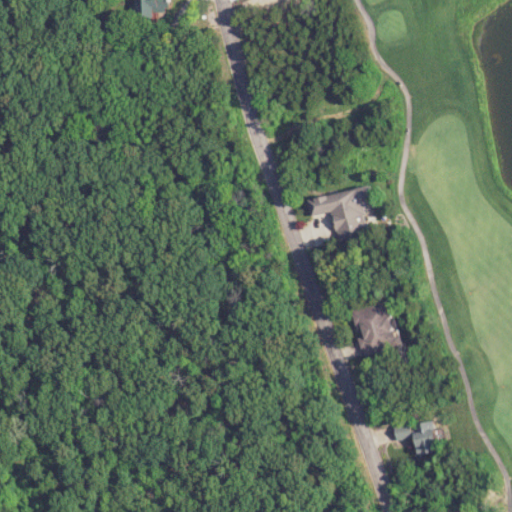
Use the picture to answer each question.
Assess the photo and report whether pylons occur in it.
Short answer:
No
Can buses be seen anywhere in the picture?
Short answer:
No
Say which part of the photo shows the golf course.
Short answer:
right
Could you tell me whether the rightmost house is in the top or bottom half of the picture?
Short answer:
bottom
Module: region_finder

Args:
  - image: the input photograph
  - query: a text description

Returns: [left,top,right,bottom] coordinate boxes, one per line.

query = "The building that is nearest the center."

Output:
[307,187,372,236]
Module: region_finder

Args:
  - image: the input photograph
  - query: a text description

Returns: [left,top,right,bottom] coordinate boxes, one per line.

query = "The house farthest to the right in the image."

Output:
[412,422,444,456]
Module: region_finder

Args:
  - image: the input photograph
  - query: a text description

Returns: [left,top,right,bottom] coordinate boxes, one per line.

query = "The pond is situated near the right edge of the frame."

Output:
[480,0,512,188]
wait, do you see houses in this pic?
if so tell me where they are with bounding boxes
[353,306,404,358]
[142,0,168,20]
[412,422,444,456]
[307,187,372,236]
